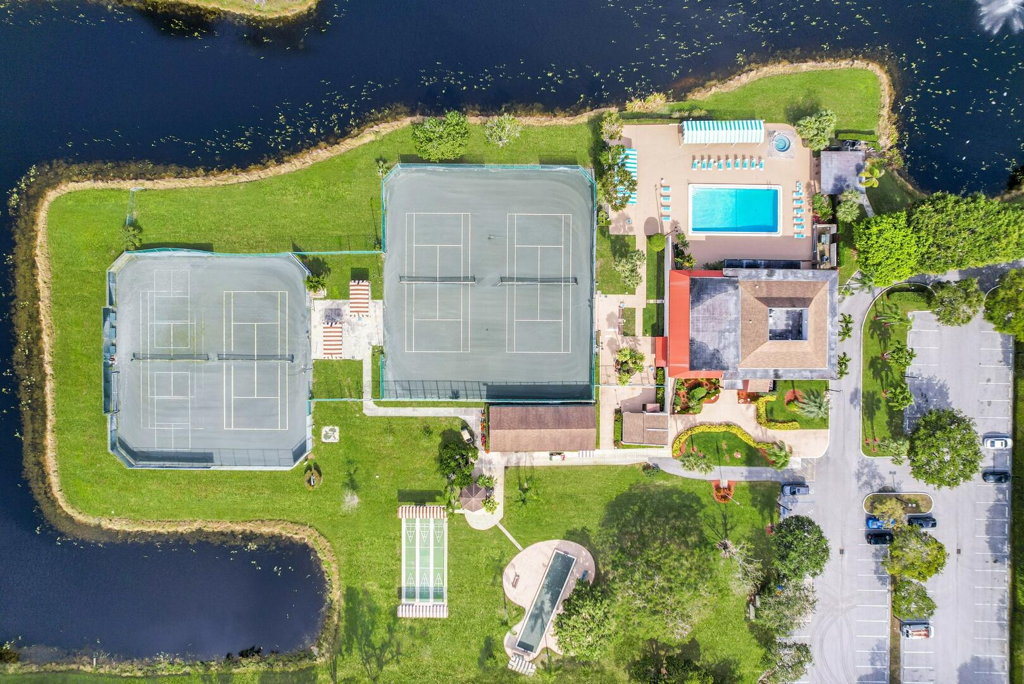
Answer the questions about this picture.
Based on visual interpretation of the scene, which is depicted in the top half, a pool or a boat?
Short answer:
pool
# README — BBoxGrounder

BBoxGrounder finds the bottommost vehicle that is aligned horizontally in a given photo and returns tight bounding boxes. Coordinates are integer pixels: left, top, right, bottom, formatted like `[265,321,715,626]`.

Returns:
[900,622,936,638]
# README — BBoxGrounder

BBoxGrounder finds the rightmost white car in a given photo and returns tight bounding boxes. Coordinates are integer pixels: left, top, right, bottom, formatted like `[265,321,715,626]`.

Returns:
[983,436,1012,449]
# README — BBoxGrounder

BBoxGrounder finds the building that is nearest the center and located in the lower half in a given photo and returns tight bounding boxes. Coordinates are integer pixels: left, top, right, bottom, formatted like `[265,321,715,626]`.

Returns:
[490,405,596,451]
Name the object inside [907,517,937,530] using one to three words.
vehicle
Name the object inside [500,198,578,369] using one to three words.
tennis court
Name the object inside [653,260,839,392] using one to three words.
building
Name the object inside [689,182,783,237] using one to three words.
swimming pool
